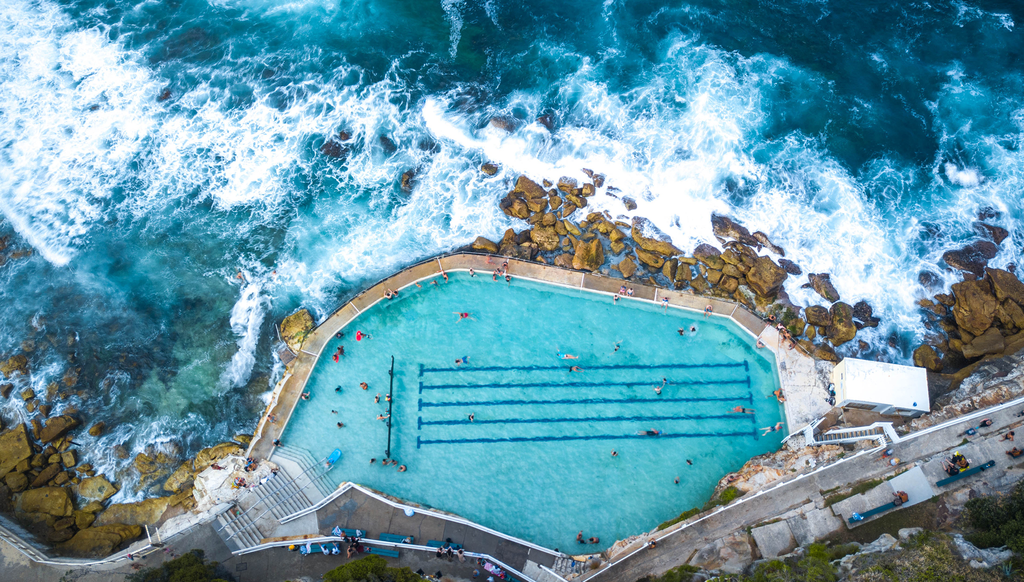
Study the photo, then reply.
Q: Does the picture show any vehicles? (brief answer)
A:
No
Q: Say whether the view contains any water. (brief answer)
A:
Yes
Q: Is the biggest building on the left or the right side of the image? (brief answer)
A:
right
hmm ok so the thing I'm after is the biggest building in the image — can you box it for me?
[831,358,930,418]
